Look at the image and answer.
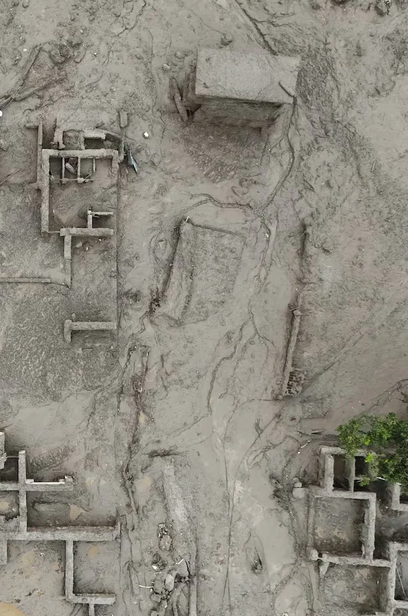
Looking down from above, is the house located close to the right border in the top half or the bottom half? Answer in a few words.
bottom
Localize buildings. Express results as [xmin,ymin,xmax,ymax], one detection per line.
[302,444,408,616]
[180,47,301,132]
[0,447,119,616]
[0,123,125,288]
[63,320,116,342]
